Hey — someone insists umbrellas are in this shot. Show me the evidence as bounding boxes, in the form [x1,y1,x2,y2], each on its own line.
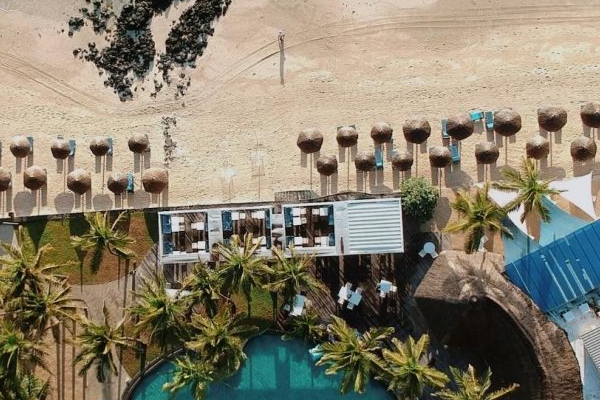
[143,169,167,193]
[391,151,412,172]
[403,117,431,144]
[336,127,358,148]
[52,139,71,157]
[298,129,323,153]
[579,101,600,130]
[91,136,110,155]
[524,135,548,158]
[371,122,392,143]
[355,152,375,171]
[475,140,498,164]
[128,133,150,154]
[316,156,336,175]
[108,174,128,193]
[11,137,31,156]
[25,166,47,189]
[445,113,472,140]
[68,170,91,192]
[569,136,595,161]
[0,167,11,191]
[429,147,450,168]
[537,105,566,134]
[494,108,521,136]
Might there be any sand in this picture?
Yes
